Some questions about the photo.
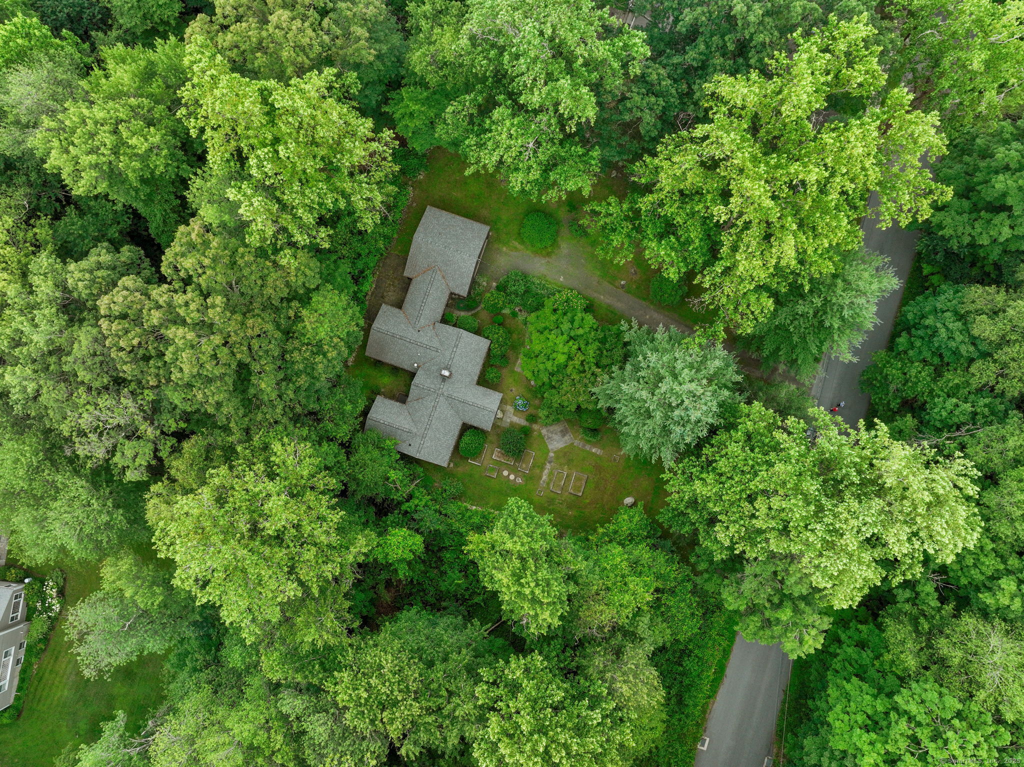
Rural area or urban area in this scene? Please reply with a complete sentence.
It looks rural.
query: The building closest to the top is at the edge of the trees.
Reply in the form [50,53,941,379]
[363,204,503,467]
